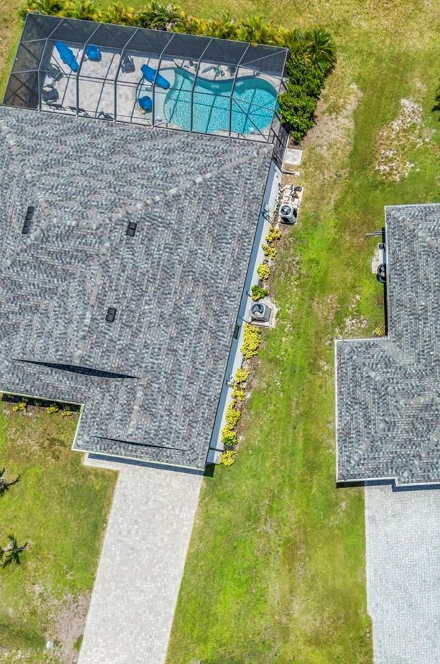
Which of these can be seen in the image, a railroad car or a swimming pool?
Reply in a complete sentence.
It is a swimming pool that can be seen here.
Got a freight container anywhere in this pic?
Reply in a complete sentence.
No, I can't see a single freight container in this photo.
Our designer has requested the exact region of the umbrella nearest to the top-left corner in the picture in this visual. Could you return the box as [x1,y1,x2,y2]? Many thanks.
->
[54,42,83,75]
